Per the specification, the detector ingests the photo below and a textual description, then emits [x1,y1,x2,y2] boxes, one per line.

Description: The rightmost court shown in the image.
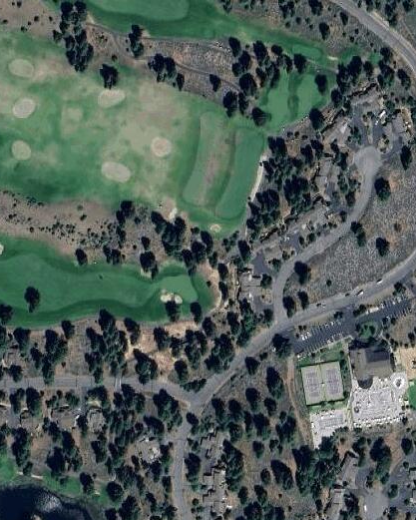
[321,362,346,402]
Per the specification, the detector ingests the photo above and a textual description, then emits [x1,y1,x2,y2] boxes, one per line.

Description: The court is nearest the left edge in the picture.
[302,364,326,405]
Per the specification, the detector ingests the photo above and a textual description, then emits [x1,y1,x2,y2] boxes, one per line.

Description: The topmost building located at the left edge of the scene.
[1,346,24,368]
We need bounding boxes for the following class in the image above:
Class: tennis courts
[321,362,346,402]
[302,364,326,405]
